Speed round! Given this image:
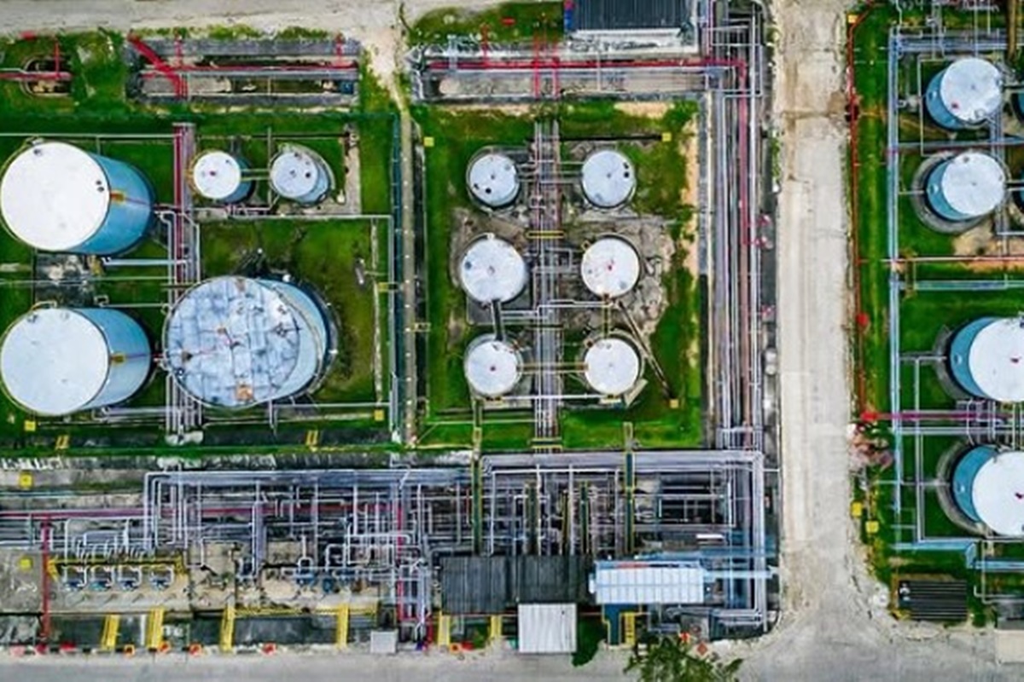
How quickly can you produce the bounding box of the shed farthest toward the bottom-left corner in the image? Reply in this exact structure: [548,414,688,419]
[441,547,516,613]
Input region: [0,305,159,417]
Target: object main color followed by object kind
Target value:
white storage tank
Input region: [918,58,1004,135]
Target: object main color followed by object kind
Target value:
white storage tank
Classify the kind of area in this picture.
industrial area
